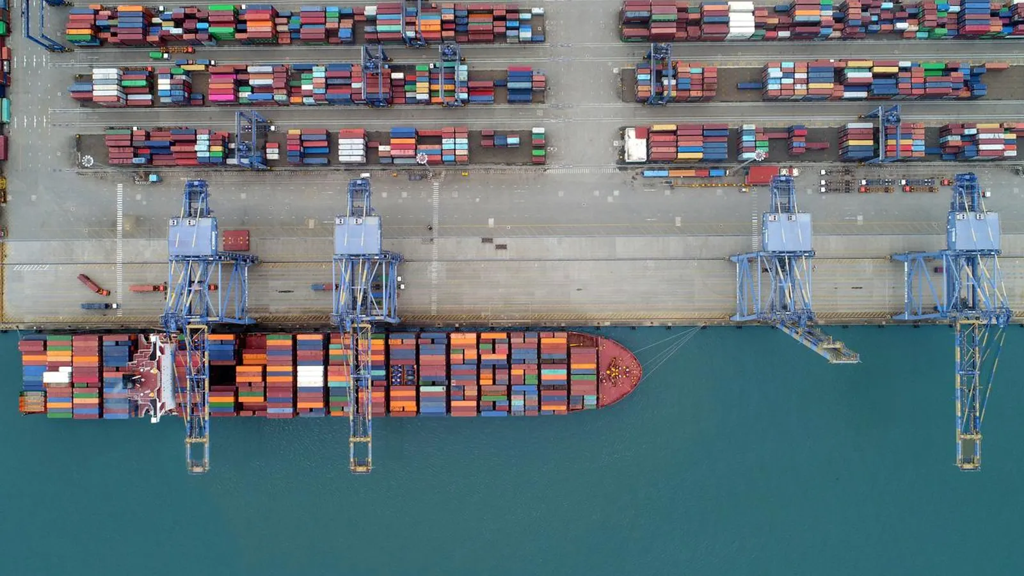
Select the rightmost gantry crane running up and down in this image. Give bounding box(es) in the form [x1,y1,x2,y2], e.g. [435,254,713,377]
[890,173,1014,472]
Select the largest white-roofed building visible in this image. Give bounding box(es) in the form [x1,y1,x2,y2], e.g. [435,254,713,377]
[624,128,647,163]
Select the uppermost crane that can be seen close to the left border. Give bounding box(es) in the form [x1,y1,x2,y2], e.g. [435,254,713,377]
[21,0,72,51]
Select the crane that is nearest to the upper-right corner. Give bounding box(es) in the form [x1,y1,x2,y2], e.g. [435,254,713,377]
[857,102,902,162]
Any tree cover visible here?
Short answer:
No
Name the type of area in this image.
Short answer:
port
